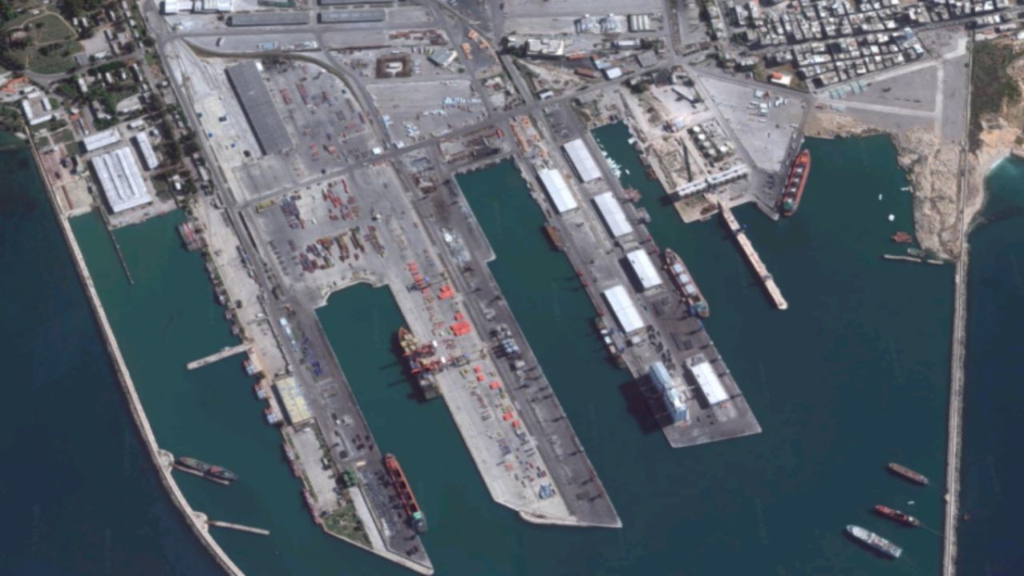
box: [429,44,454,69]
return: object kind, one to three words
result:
building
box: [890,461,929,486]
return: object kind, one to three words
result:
ship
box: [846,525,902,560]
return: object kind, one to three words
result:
ship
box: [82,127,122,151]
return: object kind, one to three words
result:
building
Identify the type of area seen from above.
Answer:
port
